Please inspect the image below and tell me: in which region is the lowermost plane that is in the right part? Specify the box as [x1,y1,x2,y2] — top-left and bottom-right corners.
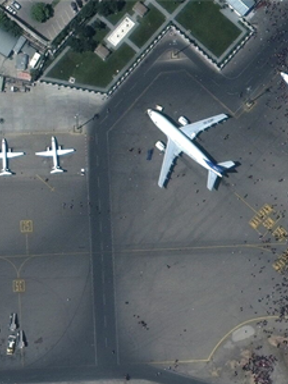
[147,109,236,191]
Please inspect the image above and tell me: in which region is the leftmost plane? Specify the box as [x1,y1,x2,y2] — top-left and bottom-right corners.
[0,139,25,175]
